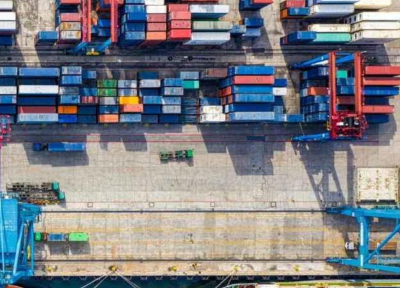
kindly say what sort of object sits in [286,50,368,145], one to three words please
container crane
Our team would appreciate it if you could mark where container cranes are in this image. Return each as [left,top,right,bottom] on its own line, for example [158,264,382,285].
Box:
[0,173,40,288]
[286,50,368,145]
[62,0,119,56]
[325,207,400,278]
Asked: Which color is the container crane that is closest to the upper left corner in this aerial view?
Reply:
red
